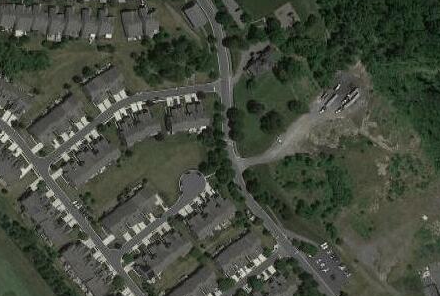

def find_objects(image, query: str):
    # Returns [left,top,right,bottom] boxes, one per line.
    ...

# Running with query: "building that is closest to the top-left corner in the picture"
[0,2,16,28]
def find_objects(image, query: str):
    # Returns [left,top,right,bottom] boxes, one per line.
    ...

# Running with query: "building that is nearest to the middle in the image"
[167,104,211,133]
